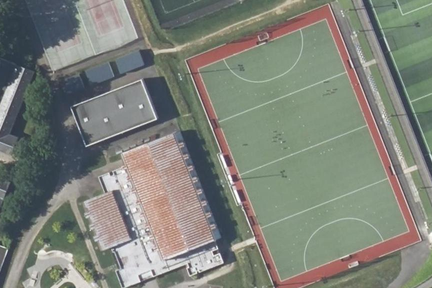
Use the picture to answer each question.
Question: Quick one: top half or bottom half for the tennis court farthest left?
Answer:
top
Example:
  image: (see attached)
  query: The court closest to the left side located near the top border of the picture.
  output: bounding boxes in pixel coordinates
[26,0,94,71]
